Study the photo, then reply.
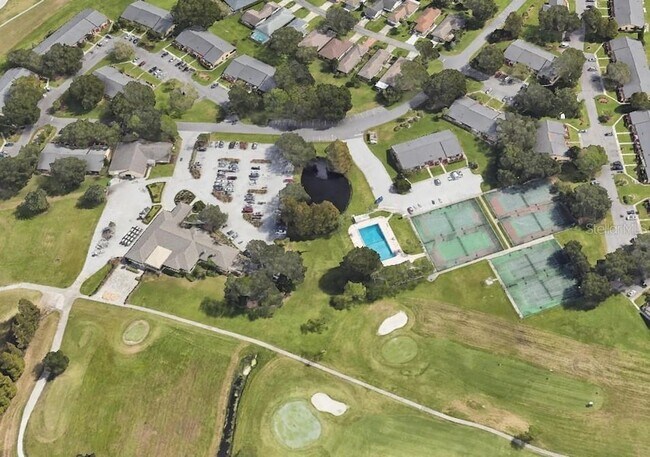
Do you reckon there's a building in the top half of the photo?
Yes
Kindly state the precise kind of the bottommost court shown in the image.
tennis court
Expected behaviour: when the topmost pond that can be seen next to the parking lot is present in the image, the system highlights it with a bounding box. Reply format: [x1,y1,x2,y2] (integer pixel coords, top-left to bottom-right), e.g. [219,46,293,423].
[301,158,352,209]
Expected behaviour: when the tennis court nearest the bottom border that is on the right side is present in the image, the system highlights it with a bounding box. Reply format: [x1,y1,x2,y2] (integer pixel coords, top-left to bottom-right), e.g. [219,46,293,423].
[487,240,583,316]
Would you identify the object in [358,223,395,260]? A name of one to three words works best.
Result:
swimming pool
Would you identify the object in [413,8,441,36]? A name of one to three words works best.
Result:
house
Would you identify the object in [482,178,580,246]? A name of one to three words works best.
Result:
tennis court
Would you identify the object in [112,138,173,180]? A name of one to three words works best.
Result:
barn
